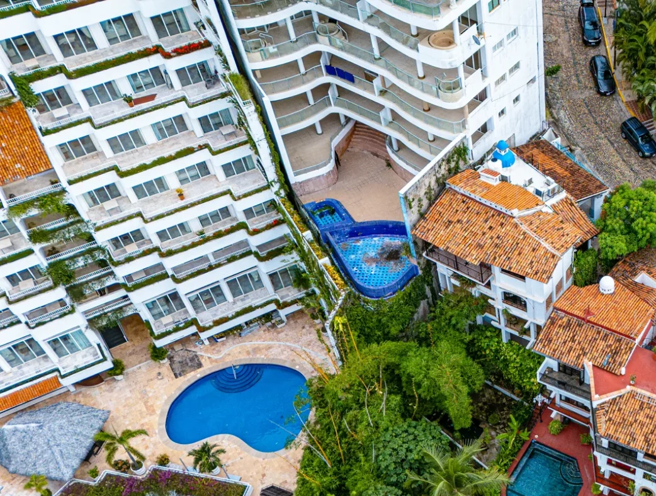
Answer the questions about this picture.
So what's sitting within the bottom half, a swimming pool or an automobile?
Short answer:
swimming pool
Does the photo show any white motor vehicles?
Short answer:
No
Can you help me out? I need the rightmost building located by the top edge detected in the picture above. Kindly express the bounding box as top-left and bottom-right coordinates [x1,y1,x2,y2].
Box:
[231,0,550,192]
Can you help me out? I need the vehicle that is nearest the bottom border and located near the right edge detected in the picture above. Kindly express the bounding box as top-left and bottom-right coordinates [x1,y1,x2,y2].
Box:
[616,105,656,159]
